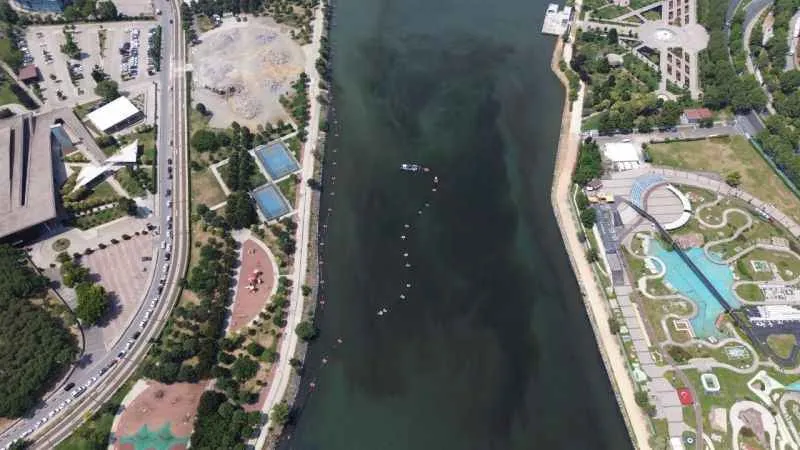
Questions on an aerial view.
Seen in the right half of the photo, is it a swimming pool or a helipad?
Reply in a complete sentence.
The feature located in the right half of the photo is a swimming pool.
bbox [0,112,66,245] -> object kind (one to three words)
building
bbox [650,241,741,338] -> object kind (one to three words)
swimming pool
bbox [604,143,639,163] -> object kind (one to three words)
tent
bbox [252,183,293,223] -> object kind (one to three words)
sports court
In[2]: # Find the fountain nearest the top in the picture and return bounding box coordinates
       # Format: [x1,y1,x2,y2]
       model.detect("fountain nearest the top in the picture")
[655,28,675,41]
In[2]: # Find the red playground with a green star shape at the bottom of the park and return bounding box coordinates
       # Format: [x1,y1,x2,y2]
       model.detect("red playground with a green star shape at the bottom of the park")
[115,381,203,450]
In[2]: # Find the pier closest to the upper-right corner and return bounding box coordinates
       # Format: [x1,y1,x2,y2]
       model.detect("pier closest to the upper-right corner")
[541,4,576,37]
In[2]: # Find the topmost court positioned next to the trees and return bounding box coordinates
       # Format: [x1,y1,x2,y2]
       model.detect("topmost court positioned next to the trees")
[254,139,301,181]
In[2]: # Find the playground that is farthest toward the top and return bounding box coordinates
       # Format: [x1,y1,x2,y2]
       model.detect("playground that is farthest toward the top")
[228,238,275,333]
